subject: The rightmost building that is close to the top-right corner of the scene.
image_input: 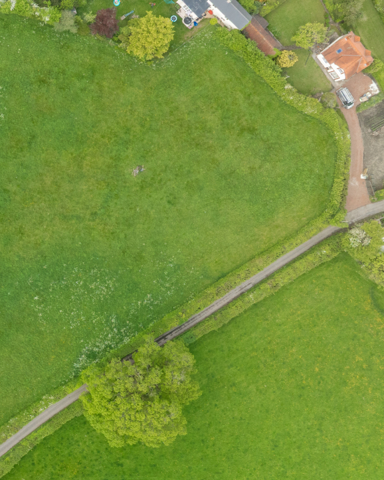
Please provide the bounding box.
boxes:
[314,31,374,81]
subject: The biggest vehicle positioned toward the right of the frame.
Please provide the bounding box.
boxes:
[334,85,353,110]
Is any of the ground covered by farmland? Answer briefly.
Yes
